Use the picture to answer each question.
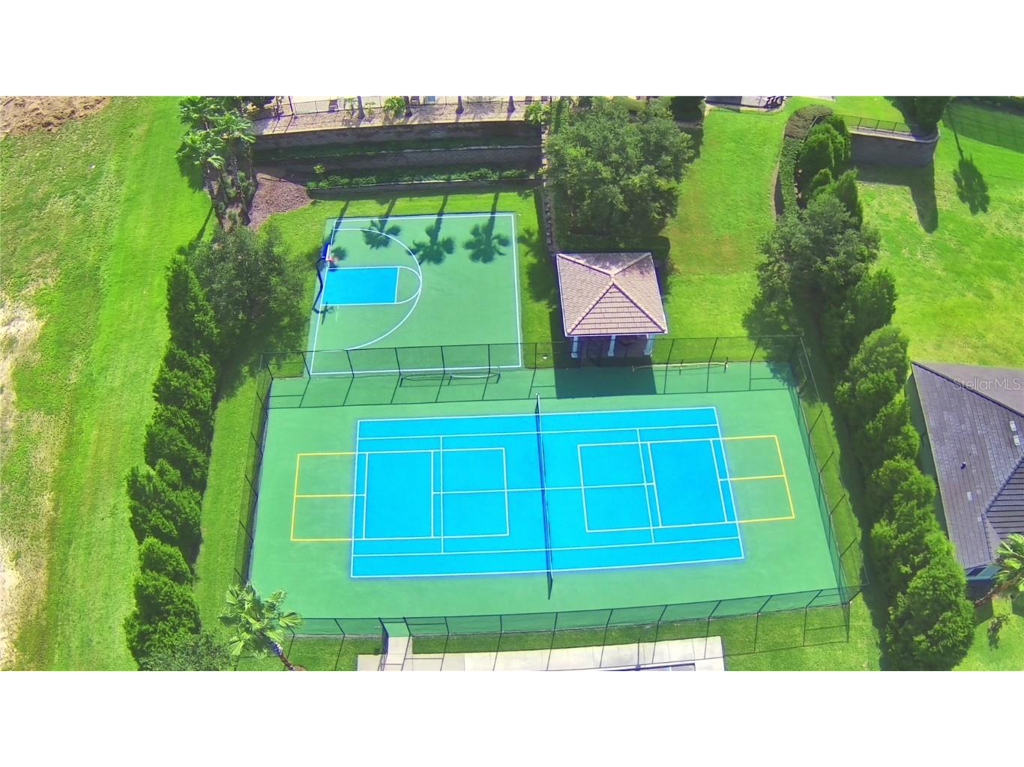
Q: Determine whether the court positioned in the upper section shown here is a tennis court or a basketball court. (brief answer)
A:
basketball court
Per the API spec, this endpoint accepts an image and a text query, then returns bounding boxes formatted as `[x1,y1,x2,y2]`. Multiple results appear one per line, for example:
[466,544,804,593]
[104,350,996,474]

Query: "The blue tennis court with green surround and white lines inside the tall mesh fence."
[242,361,853,639]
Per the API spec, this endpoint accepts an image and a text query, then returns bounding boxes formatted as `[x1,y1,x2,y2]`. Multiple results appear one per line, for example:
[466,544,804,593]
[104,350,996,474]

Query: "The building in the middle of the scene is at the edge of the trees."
[556,251,668,364]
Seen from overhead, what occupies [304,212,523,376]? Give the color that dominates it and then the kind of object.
green basketball court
